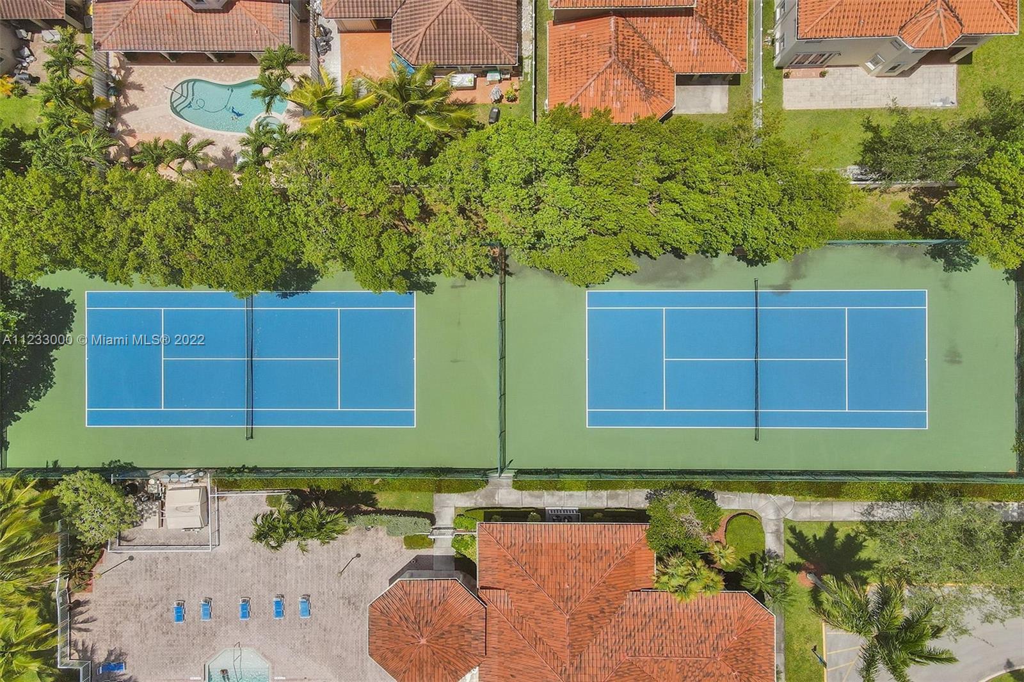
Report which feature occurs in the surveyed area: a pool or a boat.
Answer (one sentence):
The one in the frame is a pool.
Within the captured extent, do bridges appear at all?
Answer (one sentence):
No, the scene contains no bridge.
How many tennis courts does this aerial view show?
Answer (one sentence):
In total, there are 2 tennis courts in the scene.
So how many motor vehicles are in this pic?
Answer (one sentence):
The picture shows no motor vehicles.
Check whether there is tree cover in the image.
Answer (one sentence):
Yes, some tree cover is visible.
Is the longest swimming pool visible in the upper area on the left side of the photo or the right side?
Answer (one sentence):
You can find the longest swimming pool visible in the upper area on the left side of the picture.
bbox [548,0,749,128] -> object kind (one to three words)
house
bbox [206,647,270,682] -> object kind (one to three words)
swimming pool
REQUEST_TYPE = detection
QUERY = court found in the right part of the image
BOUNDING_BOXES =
[502,243,1017,474]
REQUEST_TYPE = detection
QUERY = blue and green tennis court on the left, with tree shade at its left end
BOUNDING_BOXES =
[6,246,501,471]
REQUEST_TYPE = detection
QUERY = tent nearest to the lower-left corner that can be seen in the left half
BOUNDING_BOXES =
[156,488,206,531]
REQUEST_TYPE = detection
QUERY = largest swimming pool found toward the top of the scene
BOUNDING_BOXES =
[167,74,293,136]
